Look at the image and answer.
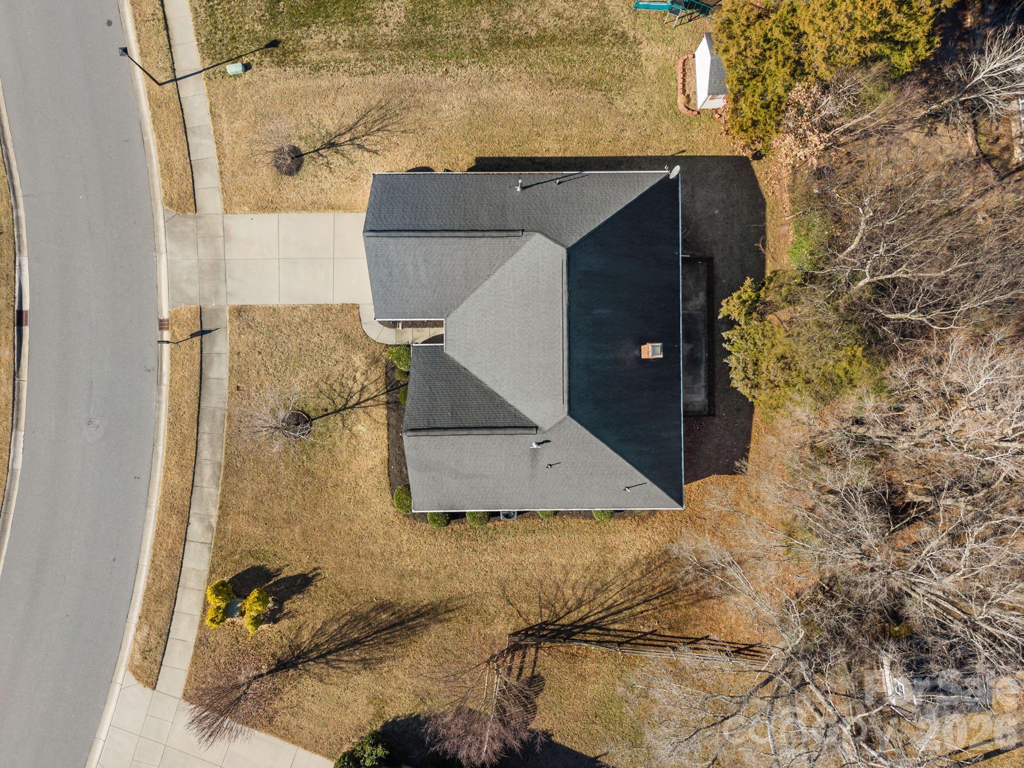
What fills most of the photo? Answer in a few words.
grass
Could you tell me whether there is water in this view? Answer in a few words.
No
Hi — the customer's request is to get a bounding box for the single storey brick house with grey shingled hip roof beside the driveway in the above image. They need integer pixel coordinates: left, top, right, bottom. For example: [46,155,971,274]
[362,172,682,513]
